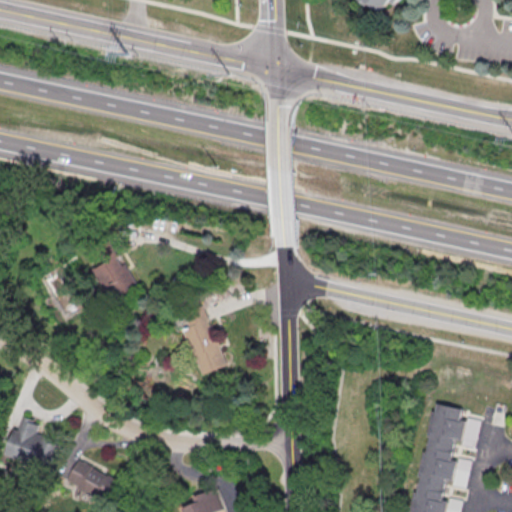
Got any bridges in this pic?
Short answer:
Yes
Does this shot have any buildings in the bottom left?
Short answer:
Yes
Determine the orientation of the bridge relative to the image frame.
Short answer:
from top to bottom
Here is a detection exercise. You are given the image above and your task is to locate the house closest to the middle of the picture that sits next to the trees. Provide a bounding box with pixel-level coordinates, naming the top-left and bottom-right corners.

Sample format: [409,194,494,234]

[185,303,230,374]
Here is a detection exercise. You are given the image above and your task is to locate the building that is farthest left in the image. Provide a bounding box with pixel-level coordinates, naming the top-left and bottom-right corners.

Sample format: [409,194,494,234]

[2,416,58,460]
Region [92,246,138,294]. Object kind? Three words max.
house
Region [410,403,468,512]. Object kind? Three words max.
building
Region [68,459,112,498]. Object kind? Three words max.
house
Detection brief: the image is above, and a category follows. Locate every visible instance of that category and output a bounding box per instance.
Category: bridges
[265,98,297,248]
